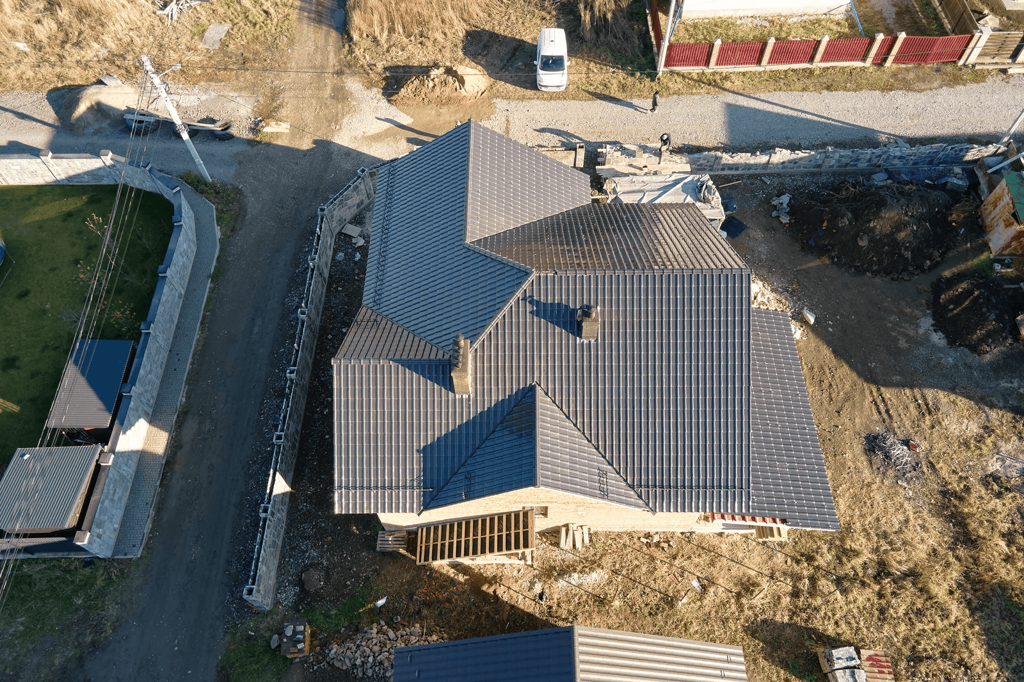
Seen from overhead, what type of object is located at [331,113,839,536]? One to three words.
house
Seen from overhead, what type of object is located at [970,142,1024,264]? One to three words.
shed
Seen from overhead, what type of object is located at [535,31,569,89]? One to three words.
van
